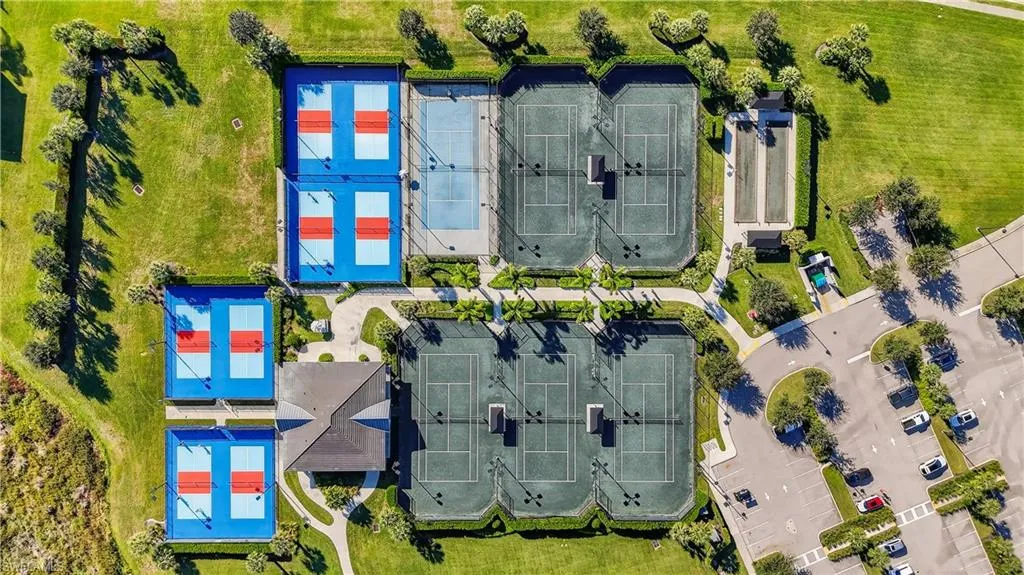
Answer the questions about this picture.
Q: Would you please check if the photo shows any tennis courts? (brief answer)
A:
Yes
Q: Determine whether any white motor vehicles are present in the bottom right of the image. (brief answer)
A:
Yes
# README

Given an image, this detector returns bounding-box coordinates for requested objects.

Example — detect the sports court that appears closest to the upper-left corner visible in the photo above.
[294,85,334,159]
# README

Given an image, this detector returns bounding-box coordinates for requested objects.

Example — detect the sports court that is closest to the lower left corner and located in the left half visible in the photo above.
[173,445,214,520]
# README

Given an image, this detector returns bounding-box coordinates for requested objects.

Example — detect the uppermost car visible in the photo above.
[927,347,955,363]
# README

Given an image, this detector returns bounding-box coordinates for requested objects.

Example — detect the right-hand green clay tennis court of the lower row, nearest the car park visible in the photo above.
[609,354,680,482]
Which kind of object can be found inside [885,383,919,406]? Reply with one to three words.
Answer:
truck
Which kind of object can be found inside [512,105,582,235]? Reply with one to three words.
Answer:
tennis court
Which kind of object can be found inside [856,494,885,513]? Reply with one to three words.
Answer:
car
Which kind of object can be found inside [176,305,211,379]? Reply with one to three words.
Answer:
sports court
